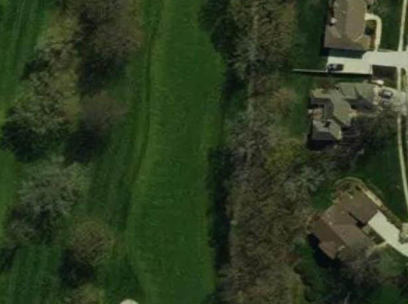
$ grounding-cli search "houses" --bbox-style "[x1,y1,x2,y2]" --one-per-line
[310,83,378,143]
[323,0,377,52]
[312,186,380,263]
